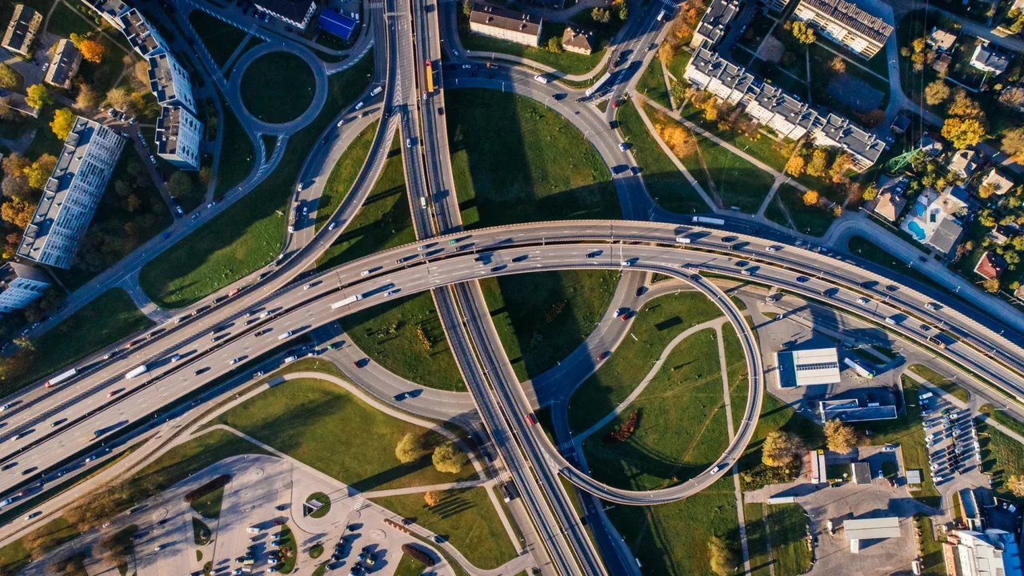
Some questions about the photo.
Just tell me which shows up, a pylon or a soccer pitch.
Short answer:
pylon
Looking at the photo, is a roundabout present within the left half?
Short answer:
Yes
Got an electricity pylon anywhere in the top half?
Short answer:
Yes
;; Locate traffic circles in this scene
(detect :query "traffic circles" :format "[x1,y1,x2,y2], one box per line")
[229,40,327,134]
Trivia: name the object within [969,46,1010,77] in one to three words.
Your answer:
house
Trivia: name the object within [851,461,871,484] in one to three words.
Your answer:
shed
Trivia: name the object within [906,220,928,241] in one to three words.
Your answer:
swimming pool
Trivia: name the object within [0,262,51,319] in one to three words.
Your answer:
building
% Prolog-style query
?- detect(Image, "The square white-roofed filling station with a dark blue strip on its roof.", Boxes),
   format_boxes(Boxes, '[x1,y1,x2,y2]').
[773,348,841,388]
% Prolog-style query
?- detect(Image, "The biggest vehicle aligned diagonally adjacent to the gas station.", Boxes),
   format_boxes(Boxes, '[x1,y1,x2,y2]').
[841,355,873,378]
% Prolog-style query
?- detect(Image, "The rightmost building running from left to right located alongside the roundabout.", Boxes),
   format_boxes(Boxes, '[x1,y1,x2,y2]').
[253,0,318,29]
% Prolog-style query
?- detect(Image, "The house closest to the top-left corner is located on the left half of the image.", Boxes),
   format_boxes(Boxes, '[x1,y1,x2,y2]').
[2,4,42,54]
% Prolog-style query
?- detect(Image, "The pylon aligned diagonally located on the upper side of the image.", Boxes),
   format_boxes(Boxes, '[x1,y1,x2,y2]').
[885,144,934,176]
